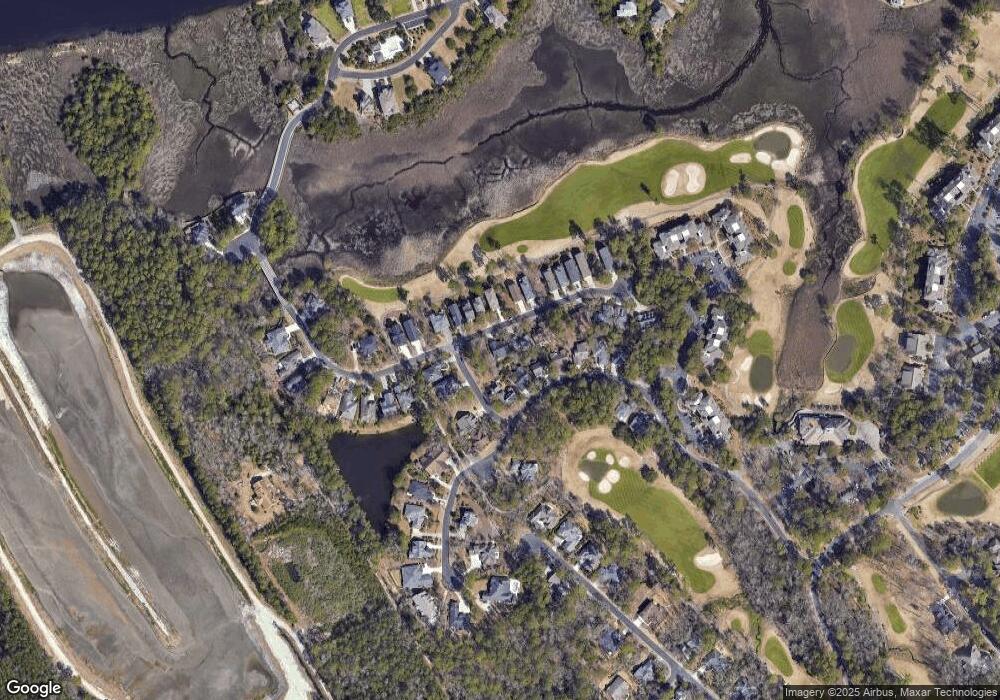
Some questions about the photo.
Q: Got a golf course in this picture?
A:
Yes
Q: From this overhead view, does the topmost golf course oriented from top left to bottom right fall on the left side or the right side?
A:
right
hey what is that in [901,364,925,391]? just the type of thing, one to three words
building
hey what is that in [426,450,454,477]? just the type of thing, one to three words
house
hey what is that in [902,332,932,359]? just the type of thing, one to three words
building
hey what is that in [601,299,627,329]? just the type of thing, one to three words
house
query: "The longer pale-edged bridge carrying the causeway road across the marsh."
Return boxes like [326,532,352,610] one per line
[262,111,306,190]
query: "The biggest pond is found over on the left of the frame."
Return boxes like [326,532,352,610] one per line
[330,424,424,527]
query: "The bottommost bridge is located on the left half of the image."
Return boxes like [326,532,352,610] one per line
[250,248,289,307]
